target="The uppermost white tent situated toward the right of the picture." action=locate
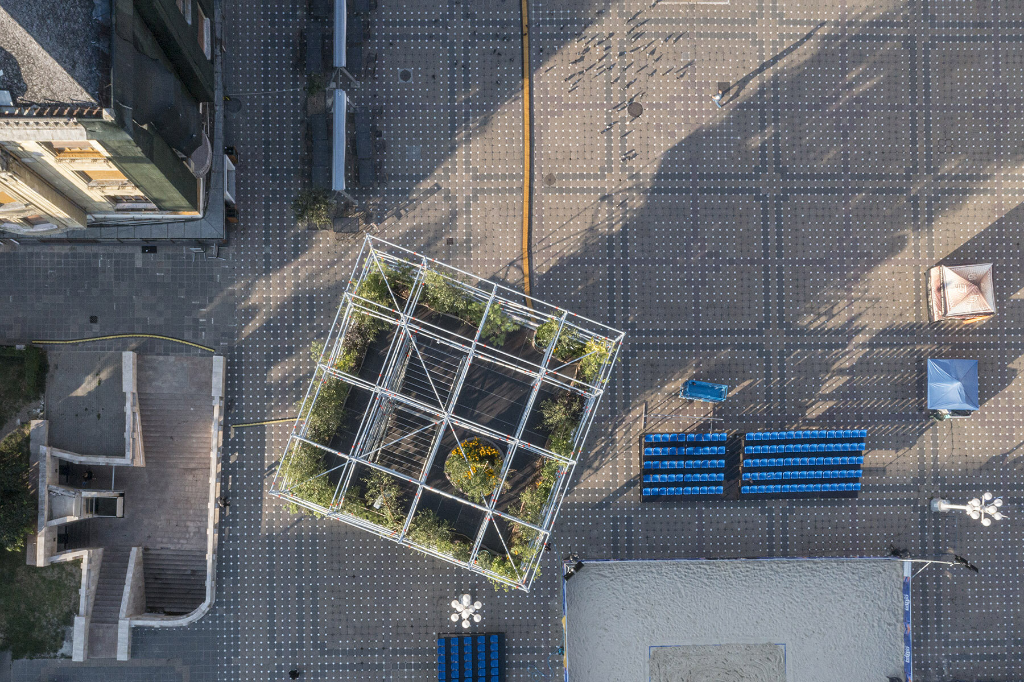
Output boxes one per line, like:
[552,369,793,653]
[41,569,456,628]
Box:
[917,263,996,326]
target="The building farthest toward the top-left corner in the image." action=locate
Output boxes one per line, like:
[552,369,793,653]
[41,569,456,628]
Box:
[0,0,228,251]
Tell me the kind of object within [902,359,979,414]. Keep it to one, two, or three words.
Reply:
tent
